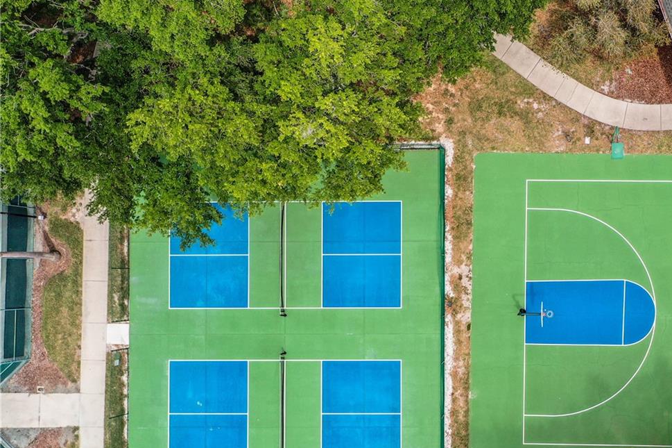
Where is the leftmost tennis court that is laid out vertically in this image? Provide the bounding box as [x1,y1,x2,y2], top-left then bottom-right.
[0,128,31,379]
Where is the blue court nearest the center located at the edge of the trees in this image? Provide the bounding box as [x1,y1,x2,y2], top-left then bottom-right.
[169,201,402,308]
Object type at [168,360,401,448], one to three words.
sports court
